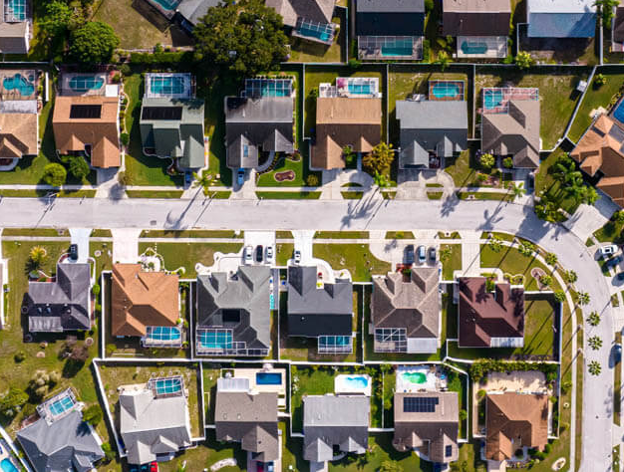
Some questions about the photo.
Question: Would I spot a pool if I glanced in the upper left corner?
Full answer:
Yes, looking in the upper left corner, one can make out a pool.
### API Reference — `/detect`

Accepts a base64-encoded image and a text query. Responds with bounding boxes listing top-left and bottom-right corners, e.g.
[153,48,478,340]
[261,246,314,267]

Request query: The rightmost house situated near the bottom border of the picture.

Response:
[486,392,548,465]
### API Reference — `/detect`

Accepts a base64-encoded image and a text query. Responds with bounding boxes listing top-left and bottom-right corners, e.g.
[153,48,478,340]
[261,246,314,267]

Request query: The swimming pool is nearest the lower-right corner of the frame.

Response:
[396,366,447,391]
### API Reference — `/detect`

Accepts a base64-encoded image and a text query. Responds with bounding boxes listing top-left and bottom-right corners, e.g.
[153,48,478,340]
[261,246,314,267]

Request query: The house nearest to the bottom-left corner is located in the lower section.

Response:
[15,409,104,472]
